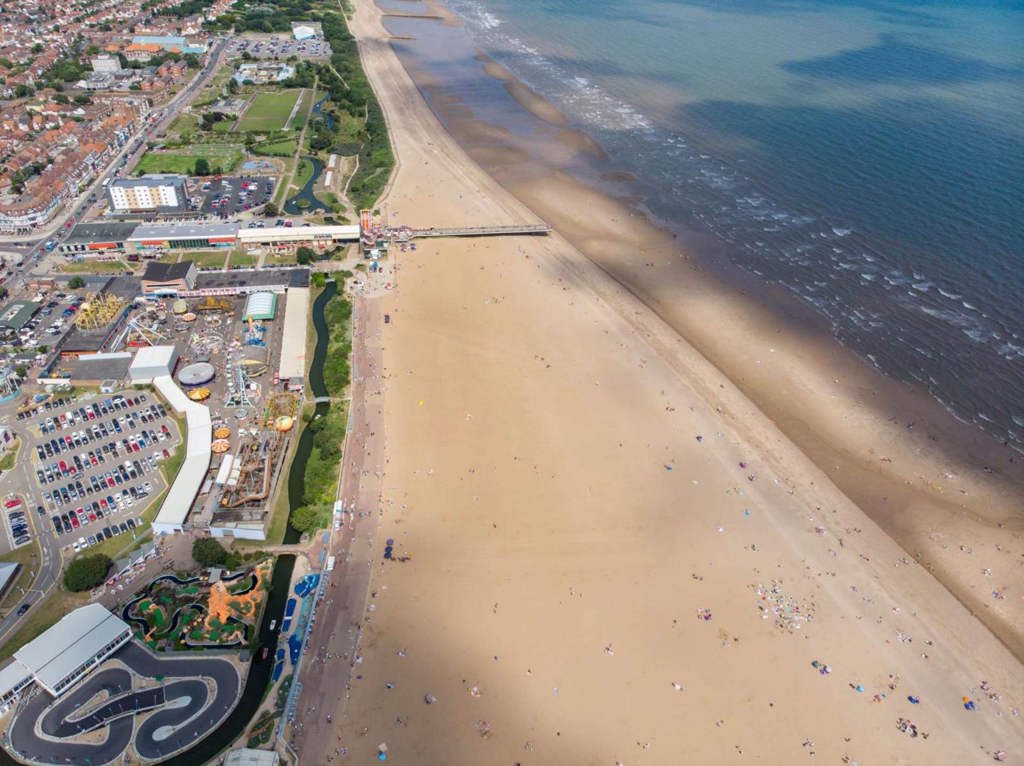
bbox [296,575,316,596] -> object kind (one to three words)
swimming pool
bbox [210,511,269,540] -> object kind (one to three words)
building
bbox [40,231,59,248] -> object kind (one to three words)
vehicle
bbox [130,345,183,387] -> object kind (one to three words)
shed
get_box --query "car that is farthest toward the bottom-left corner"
[15,601,32,616]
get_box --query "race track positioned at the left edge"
[10,643,239,766]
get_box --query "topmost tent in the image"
[292,23,315,39]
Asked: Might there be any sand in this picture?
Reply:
Yes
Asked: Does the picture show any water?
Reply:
Yes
